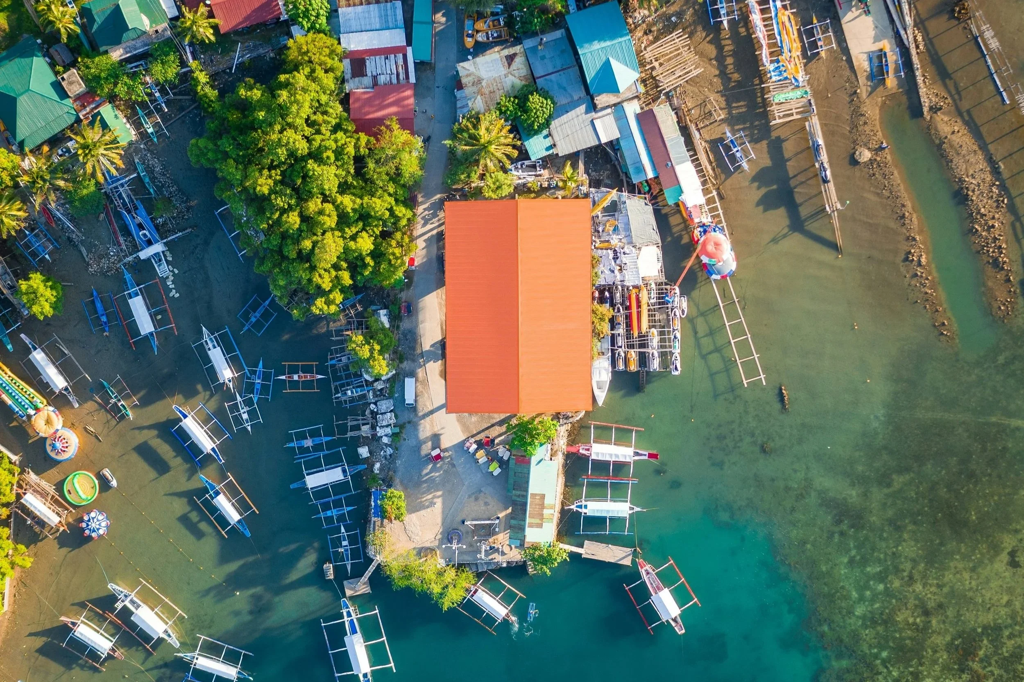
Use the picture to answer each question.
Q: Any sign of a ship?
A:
Yes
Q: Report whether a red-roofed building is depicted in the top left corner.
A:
Yes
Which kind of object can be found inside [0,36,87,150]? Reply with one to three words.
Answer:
house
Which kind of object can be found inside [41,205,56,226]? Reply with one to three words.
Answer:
boat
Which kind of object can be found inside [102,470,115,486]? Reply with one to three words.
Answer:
boat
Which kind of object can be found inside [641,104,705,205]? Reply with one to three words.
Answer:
shed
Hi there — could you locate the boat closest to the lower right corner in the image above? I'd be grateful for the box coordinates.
[623,557,701,635]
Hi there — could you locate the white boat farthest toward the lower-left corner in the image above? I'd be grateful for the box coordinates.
[60,602,128,671]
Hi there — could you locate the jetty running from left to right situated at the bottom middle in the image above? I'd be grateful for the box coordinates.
[559,539,634,567]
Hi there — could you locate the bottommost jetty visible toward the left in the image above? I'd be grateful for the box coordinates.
[343,558,380,598]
